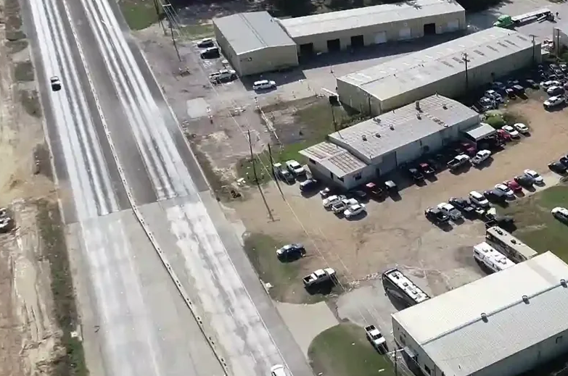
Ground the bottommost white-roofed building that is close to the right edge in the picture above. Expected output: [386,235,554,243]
[395,248,568,376]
